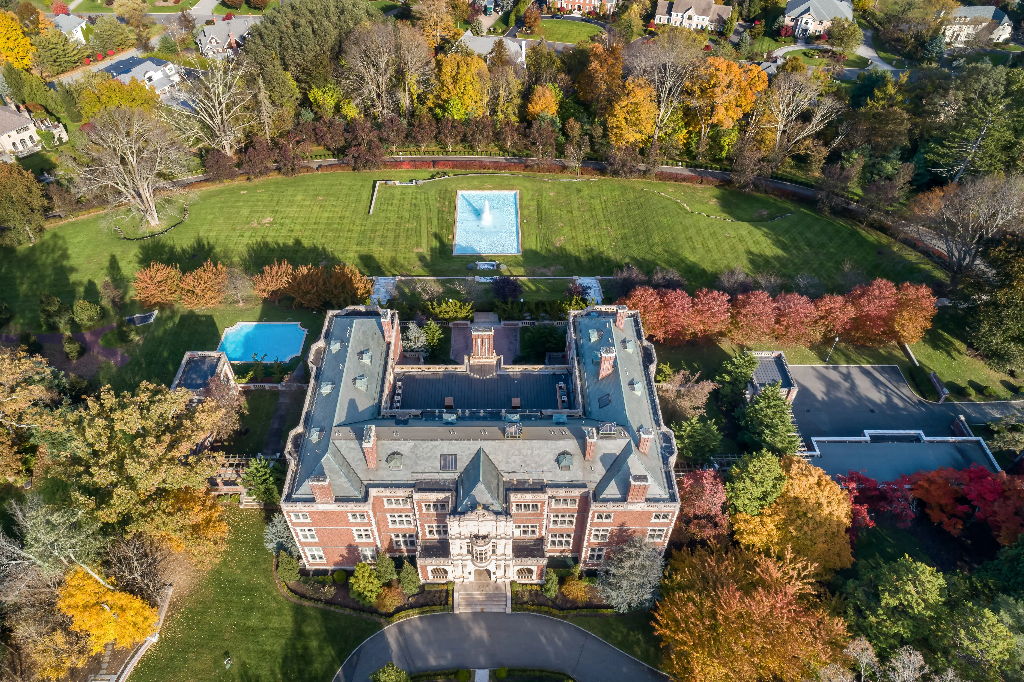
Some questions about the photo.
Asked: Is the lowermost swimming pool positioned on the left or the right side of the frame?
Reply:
left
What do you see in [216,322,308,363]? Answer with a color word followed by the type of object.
blue swimming pool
